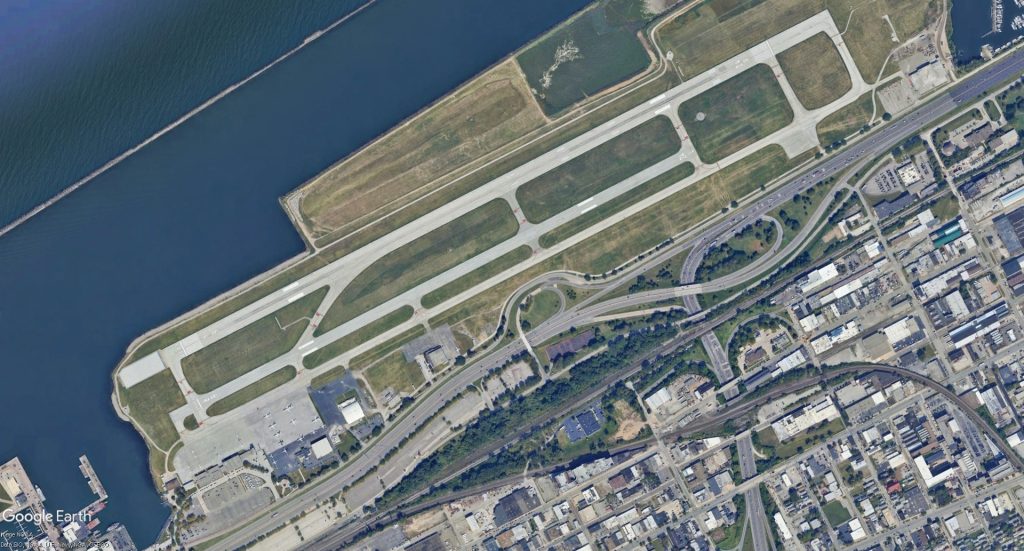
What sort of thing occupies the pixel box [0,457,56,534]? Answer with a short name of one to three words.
pier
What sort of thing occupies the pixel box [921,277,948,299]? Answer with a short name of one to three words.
building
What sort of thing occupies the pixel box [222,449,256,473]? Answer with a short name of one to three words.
building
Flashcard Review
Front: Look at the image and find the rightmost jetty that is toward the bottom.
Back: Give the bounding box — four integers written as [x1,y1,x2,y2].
[75,455,108,517]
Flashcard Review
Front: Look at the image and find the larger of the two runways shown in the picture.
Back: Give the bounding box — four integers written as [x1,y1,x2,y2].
[159,10,836,365]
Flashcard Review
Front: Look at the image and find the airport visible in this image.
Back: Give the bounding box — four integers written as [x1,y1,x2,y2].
[118,10,902,483]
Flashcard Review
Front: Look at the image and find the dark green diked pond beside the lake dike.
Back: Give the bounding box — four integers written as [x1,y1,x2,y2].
[517,0,681,116]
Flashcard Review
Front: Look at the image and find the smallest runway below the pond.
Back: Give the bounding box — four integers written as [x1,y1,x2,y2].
[196,149,690,409]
